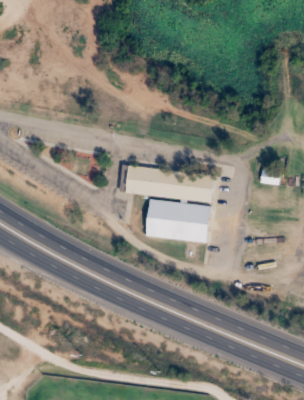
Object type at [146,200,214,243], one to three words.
building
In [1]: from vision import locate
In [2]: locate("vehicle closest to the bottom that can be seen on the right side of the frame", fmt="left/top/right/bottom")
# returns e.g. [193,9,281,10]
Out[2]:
[232,278,272,292]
